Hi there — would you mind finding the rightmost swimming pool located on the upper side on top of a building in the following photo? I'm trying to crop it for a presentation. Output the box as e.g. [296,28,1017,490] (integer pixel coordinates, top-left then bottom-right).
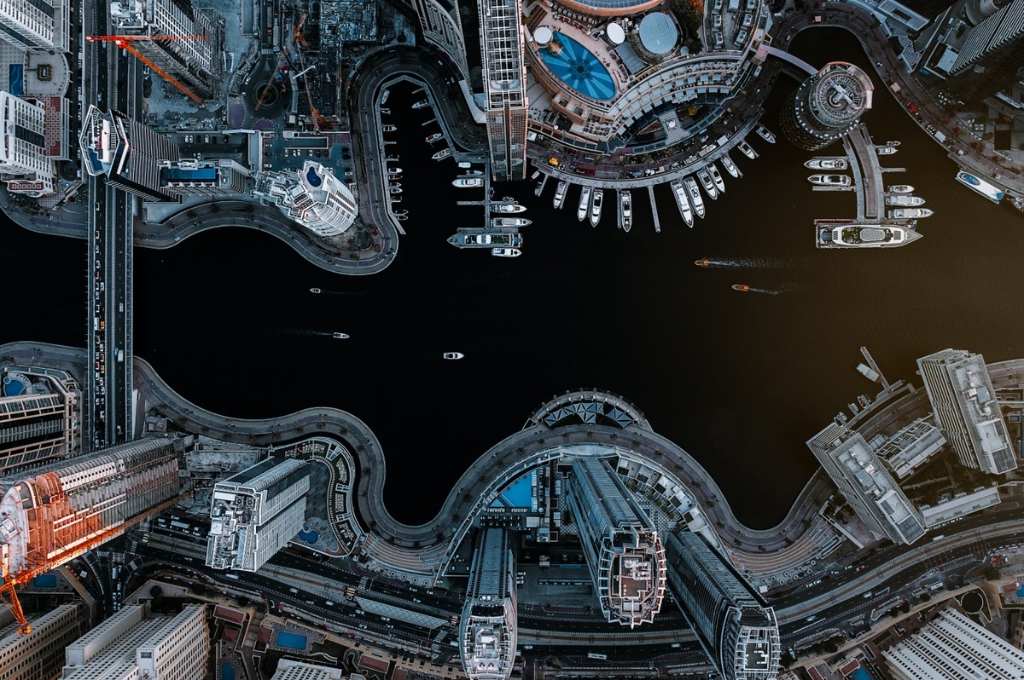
[538,31,615,100]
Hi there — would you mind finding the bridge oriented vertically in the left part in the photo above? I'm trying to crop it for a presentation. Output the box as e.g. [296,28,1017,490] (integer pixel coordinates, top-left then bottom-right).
[87,0,135,451]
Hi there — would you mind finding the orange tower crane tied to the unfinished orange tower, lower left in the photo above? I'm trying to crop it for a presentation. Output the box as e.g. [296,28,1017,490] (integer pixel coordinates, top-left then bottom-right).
[0,490,194,638]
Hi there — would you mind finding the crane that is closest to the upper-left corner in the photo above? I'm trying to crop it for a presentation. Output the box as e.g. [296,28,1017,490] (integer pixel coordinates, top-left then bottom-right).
[82,34,208,105]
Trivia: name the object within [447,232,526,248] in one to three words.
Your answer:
boat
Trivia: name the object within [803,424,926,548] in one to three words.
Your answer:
building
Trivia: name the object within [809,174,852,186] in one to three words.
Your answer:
boat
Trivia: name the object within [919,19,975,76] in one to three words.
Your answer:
building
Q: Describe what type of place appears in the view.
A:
port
